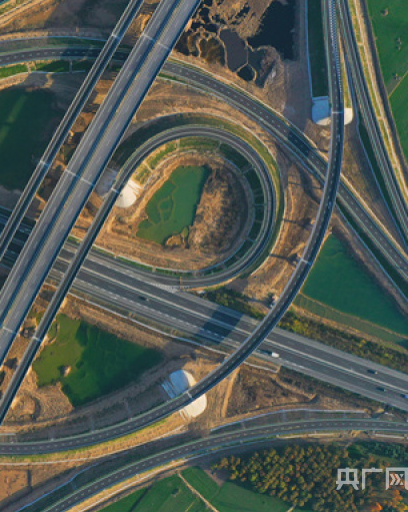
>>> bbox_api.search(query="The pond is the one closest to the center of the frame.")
[138,166,208,245]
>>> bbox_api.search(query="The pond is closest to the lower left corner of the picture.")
[34,316,162,406]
